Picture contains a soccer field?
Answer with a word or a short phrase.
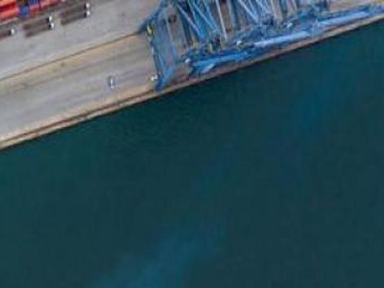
No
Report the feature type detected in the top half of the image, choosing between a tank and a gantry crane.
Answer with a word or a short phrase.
gantry crane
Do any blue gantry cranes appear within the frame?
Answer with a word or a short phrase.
Yes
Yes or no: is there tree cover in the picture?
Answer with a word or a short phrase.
No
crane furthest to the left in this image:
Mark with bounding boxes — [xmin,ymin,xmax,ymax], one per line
[135,0,251,88]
